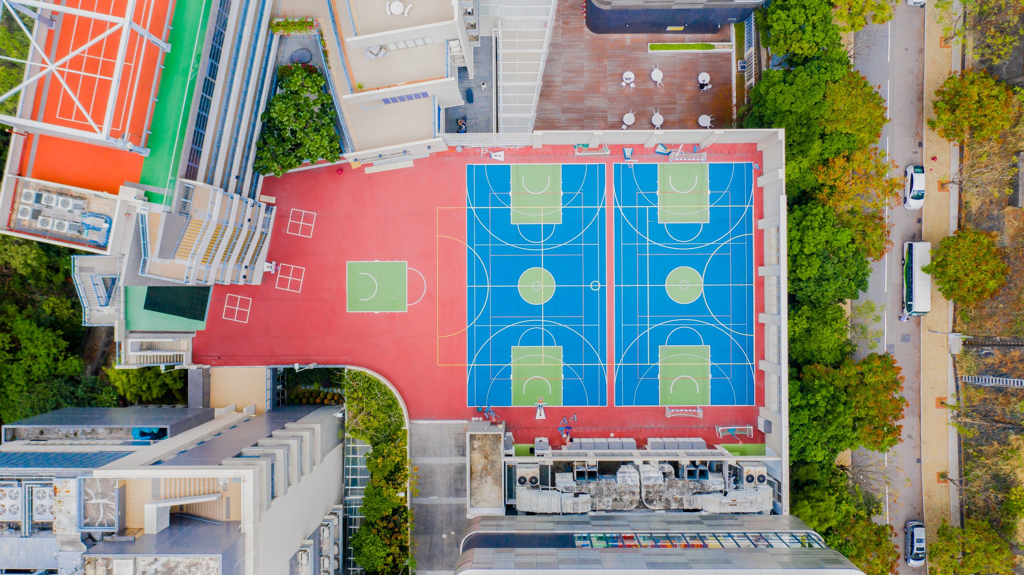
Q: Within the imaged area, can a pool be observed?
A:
No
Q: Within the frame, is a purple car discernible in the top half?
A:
No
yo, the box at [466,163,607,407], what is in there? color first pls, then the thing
blue basketball court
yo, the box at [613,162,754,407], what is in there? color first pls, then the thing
blue basketball court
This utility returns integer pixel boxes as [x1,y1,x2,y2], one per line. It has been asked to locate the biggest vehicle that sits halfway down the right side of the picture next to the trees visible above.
[902,241,935,315]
